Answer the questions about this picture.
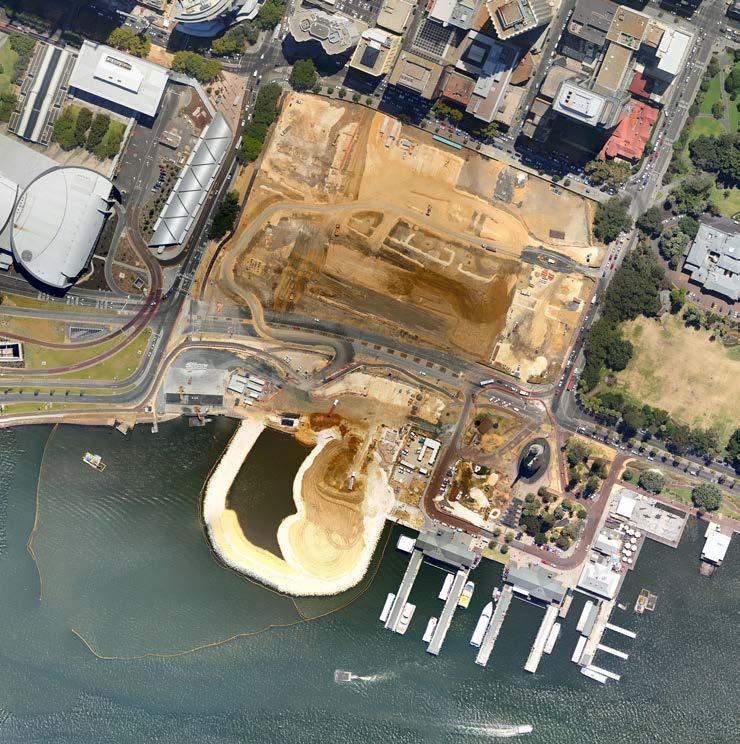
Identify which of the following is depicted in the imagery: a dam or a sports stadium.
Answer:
sports stadium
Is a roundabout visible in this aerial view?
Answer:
No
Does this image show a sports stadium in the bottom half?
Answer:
No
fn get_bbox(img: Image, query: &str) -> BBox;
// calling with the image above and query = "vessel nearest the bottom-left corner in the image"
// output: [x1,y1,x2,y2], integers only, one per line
[84,453,107,471]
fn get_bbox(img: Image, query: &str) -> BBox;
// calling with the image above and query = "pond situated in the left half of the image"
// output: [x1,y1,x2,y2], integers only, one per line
[226,424,320,562]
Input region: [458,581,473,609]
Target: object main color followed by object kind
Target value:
white ship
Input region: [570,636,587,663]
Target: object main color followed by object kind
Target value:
white ship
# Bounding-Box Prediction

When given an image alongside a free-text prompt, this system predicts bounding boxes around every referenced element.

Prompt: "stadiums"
[10,163,120,290]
